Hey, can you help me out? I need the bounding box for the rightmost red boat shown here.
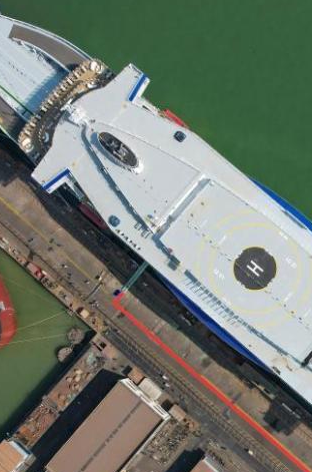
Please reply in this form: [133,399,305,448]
[158,107,185,127]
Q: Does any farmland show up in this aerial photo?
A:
No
